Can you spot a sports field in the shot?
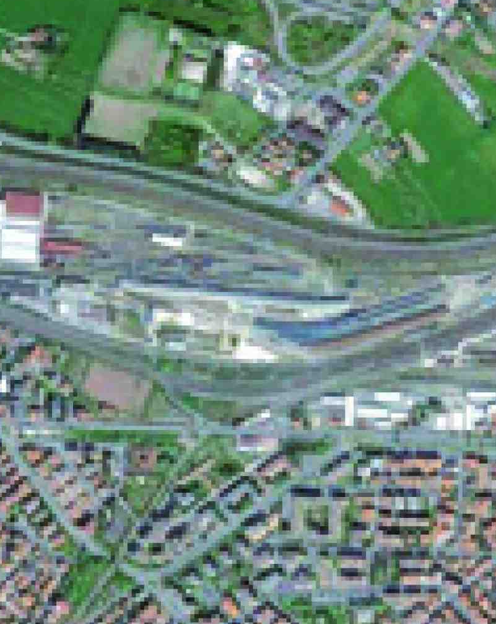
Yes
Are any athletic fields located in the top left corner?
Yes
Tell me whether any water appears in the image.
No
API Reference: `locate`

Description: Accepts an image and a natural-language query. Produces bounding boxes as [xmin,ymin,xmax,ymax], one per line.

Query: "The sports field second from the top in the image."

[82,93,159,148]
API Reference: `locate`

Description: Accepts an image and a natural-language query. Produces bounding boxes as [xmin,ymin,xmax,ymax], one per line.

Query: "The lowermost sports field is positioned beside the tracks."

[87,364,150,409]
